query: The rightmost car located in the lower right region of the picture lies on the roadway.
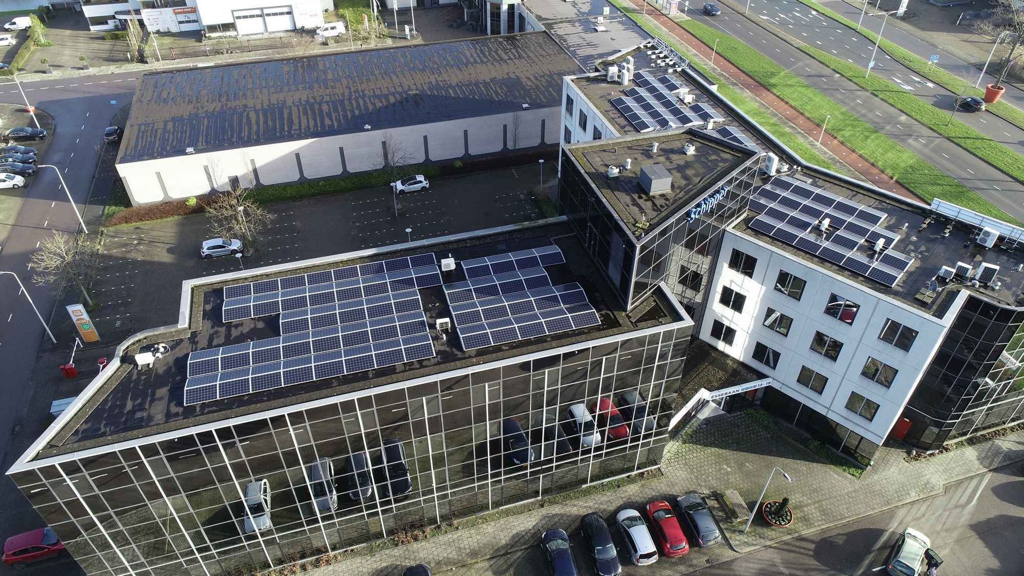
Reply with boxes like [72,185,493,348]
[890,528,944,576]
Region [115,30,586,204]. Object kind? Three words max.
building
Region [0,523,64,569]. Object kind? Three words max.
car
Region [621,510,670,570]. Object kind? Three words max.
car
